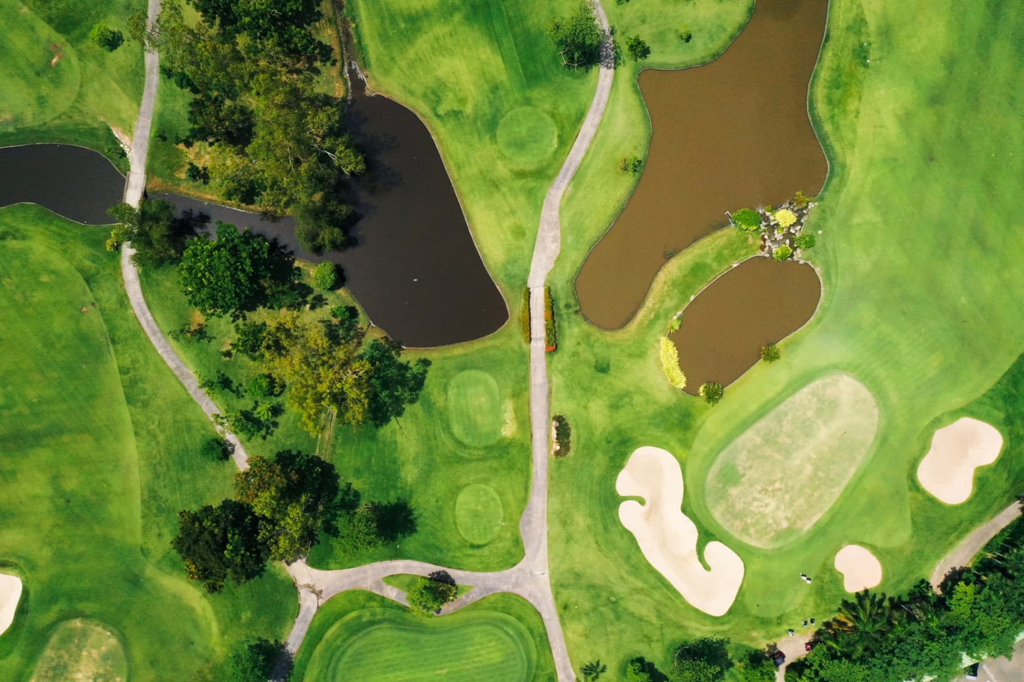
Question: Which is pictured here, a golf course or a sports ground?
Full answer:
What you see here is a golf course.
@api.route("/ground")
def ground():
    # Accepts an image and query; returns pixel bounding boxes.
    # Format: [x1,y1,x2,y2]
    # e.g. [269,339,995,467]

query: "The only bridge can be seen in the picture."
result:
[117,171,147,226]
